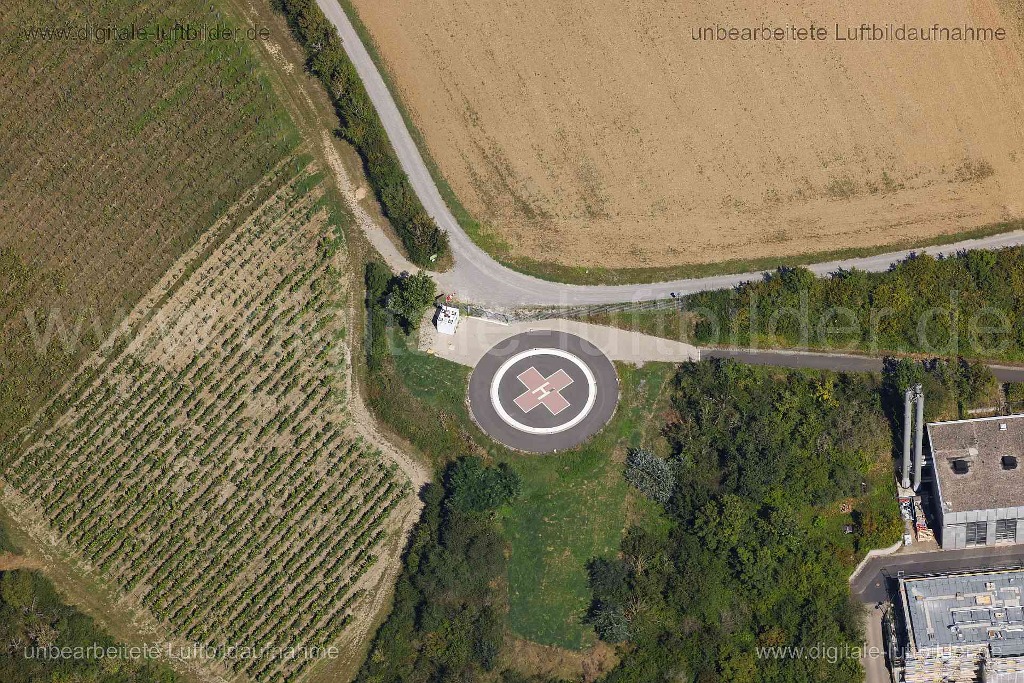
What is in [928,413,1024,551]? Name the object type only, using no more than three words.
building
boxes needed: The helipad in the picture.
[469,329,619,453]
